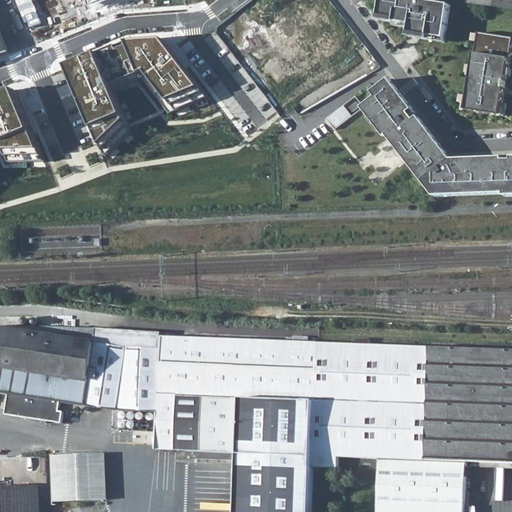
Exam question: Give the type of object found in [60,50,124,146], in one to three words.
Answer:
building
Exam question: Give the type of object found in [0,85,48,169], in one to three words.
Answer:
building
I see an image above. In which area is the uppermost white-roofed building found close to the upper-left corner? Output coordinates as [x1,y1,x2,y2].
[16,0,44,30]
